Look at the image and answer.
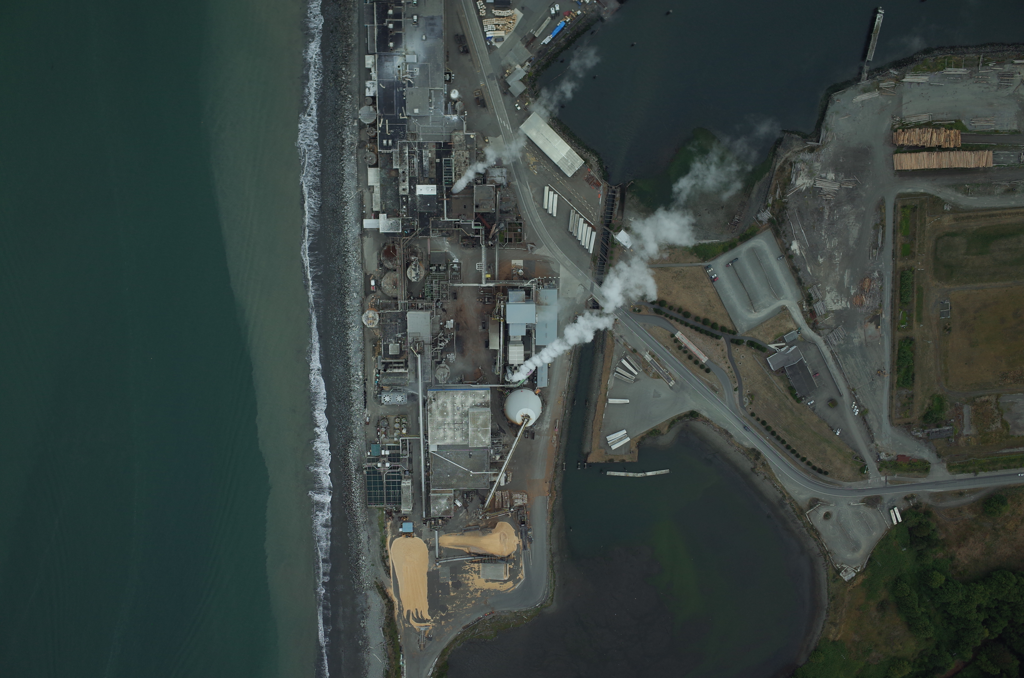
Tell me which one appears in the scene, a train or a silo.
silo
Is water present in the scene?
Yes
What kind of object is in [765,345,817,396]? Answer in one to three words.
building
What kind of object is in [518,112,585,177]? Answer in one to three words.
building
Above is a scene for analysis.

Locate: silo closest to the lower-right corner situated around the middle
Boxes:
[501,387,544,429]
